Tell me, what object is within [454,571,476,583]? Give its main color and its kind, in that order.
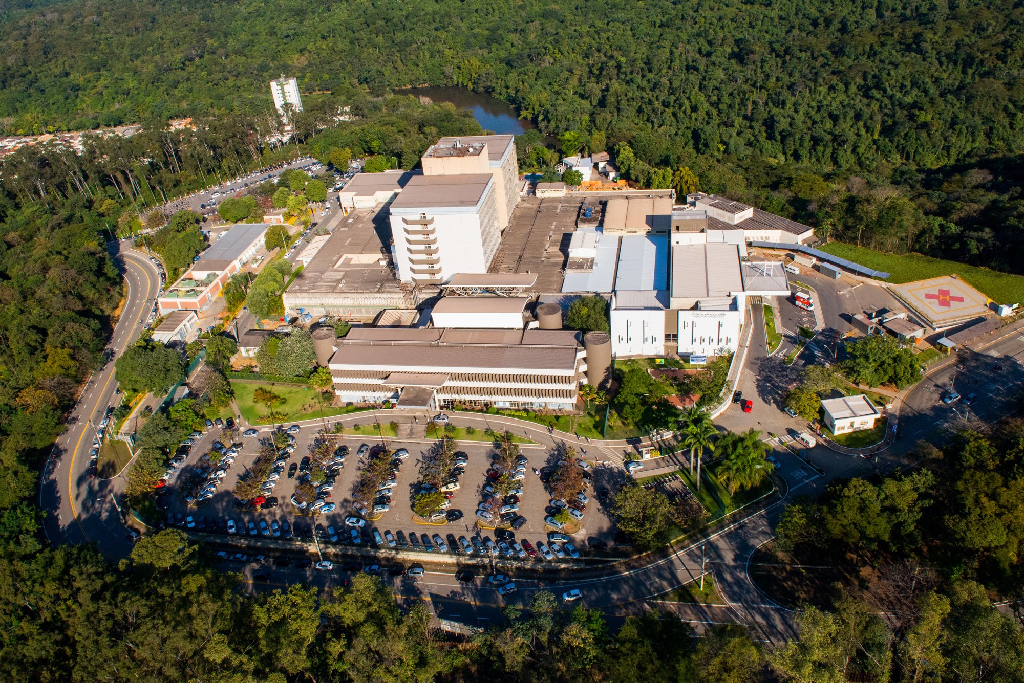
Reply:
black vehicle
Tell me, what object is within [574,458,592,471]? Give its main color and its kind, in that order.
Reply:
gray vehicle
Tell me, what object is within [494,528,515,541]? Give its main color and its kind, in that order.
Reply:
black vehicle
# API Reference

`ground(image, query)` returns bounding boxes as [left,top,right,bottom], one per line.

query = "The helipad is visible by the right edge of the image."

[887,274,997,331]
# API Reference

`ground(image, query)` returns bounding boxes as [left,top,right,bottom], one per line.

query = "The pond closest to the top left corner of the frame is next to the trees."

[412,84,542,151]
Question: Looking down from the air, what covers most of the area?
trees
